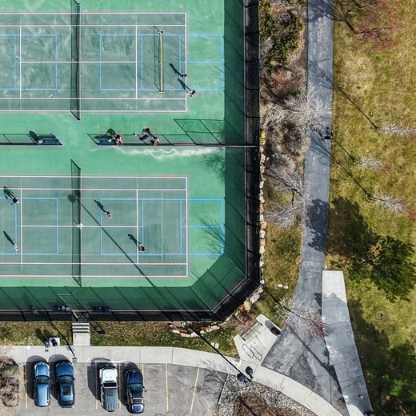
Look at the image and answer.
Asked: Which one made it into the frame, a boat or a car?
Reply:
car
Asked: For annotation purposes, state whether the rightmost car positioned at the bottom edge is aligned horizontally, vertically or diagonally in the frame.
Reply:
vertically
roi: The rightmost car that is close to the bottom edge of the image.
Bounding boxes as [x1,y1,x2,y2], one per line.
[123,369,145,415]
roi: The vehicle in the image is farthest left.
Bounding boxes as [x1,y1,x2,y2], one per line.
[34,365,53,409]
